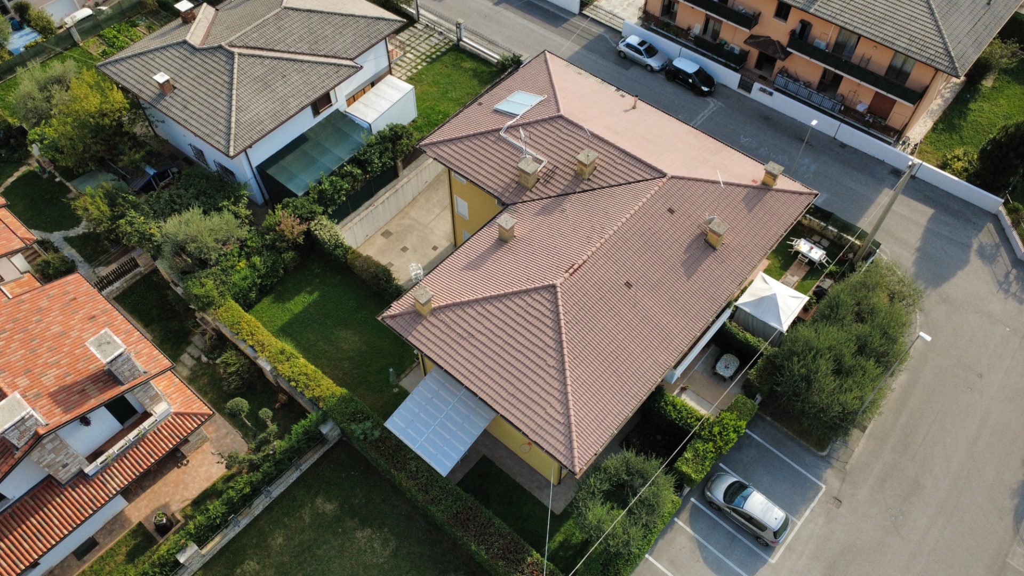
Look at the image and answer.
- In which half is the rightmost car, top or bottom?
bottom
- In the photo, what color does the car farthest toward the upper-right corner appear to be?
black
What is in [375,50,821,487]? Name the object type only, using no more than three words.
house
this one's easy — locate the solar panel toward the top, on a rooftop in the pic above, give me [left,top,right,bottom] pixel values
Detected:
[495,89,548,171]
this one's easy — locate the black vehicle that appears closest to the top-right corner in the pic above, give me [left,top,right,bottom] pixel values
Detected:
[665,57,718,96]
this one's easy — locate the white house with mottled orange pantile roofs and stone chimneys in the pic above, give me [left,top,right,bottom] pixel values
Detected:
[0,266,218,576]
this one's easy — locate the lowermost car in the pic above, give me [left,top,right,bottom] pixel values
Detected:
[702,471,796,550]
